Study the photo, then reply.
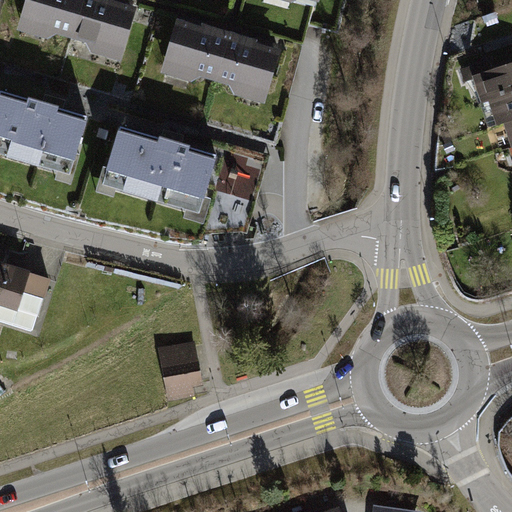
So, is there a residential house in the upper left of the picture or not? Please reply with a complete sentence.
Yes, a residential house can be seen in the upper left of the picture.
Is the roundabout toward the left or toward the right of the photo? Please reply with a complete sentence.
The roundabout appears in the right half of the scene.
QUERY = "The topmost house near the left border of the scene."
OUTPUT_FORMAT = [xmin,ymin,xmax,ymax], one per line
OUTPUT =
[17,0,138,69]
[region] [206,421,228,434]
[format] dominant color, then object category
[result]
white vehicle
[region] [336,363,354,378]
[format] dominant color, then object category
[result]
blue car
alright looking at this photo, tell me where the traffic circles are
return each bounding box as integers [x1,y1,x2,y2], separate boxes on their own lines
[349,305,488,444]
